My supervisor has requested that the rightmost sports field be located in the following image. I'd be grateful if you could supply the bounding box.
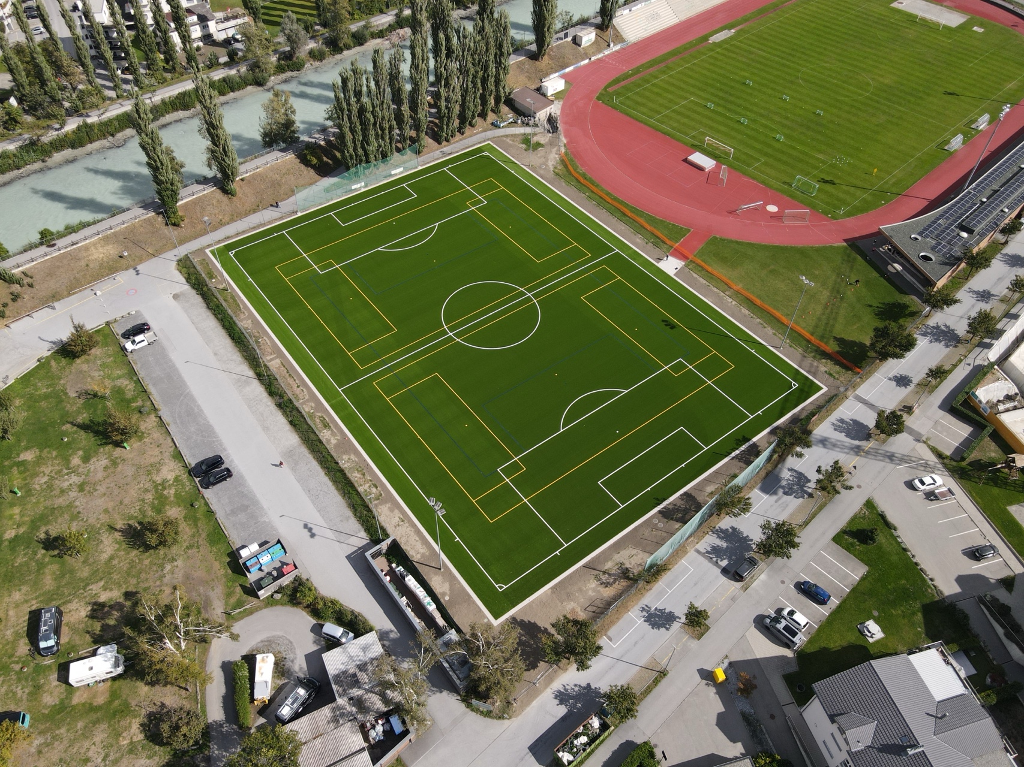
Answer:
[596,0,1024,220]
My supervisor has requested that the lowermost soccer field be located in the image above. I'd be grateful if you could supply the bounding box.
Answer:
[207,142,826,619]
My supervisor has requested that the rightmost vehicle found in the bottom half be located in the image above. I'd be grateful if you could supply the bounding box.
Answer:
[970,544,1001,563]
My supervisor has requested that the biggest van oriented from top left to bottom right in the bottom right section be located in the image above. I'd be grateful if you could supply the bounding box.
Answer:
[763,617,805,653]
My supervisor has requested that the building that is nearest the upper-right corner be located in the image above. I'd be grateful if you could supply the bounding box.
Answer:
[879,139,1024,300]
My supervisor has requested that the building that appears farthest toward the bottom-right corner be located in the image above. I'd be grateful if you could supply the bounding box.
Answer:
[799,641,1006,767]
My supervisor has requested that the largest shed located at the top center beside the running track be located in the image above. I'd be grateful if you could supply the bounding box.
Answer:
[512,85,554,123]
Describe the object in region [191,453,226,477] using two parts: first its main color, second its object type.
black car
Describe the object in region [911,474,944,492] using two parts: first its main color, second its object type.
white car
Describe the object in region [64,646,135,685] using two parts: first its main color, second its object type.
white camper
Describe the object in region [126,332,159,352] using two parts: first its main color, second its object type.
white vehicle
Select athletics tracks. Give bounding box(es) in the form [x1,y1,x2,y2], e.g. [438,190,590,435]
[558,0,1024,261]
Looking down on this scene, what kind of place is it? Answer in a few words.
sports ground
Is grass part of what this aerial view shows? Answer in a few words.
Yes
